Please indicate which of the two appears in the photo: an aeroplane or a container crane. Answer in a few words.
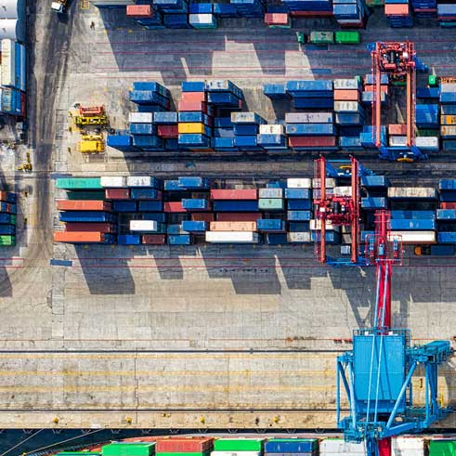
container crane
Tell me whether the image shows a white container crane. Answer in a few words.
No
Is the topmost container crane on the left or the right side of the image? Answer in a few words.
right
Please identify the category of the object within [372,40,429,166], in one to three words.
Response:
container crane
